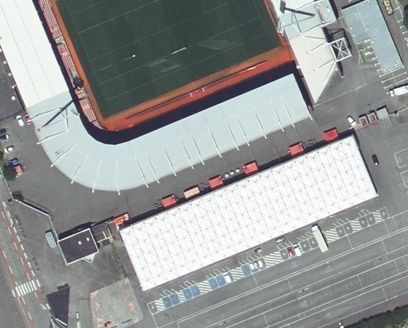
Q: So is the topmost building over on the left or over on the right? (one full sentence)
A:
The topmost building sits on the right side.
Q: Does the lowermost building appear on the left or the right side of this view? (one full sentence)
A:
It is on the left.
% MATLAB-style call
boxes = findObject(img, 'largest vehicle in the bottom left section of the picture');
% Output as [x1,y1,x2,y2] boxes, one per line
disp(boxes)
[44,230,58,249]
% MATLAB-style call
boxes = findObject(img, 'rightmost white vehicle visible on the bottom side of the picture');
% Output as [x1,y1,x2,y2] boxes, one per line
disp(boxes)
[312,226,328,252]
